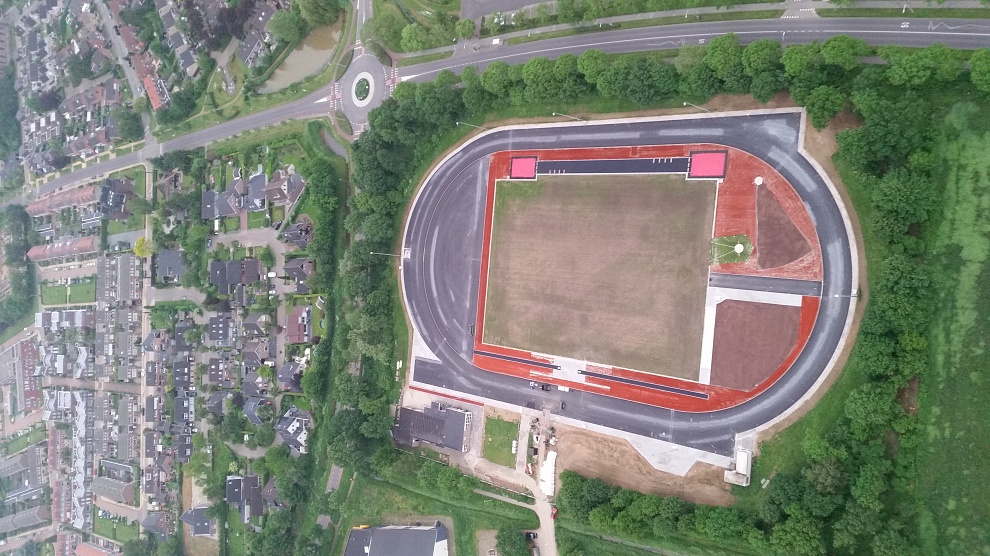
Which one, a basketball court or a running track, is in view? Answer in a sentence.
The one in the frame is a running track.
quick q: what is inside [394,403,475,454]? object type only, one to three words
building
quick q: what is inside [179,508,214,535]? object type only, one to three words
house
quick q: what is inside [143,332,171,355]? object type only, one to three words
house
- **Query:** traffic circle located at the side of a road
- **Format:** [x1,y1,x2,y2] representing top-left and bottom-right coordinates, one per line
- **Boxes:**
[340,47,387,129]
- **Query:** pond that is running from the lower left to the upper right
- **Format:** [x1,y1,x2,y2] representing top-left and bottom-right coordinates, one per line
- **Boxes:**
[254,8,344,93]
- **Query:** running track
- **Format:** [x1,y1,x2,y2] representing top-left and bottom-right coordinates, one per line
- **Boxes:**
[400,107,859,476]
